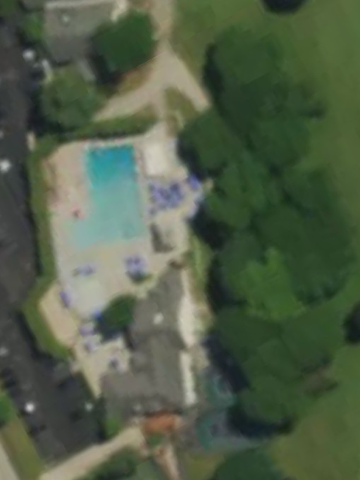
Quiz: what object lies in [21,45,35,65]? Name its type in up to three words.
car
